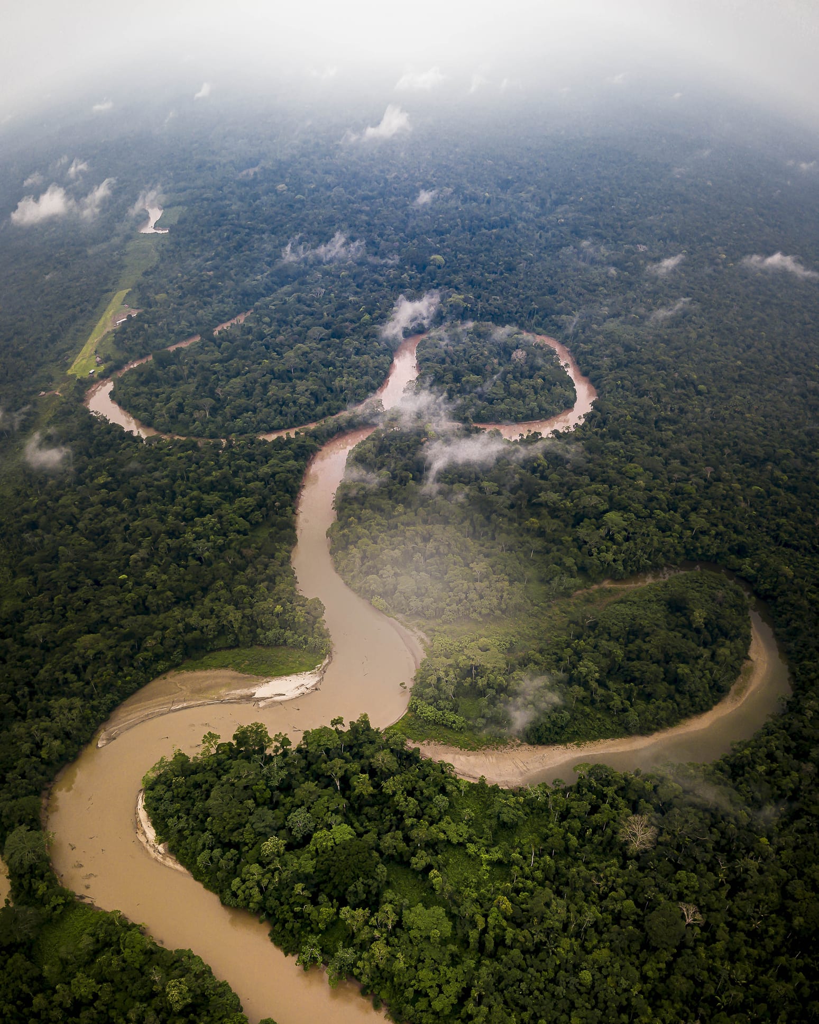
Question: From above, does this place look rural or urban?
rural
